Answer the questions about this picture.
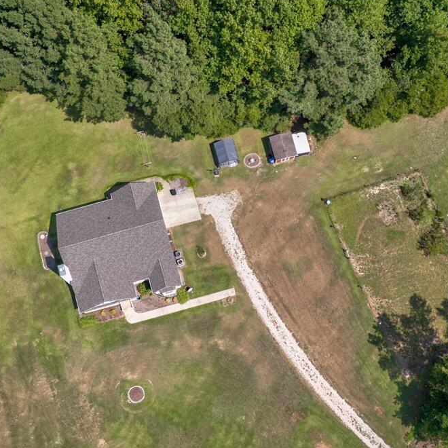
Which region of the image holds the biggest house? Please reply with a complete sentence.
The biggest house is in the left part of the image.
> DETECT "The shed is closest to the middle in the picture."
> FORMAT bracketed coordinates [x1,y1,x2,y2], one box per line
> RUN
[214,138,239,169]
